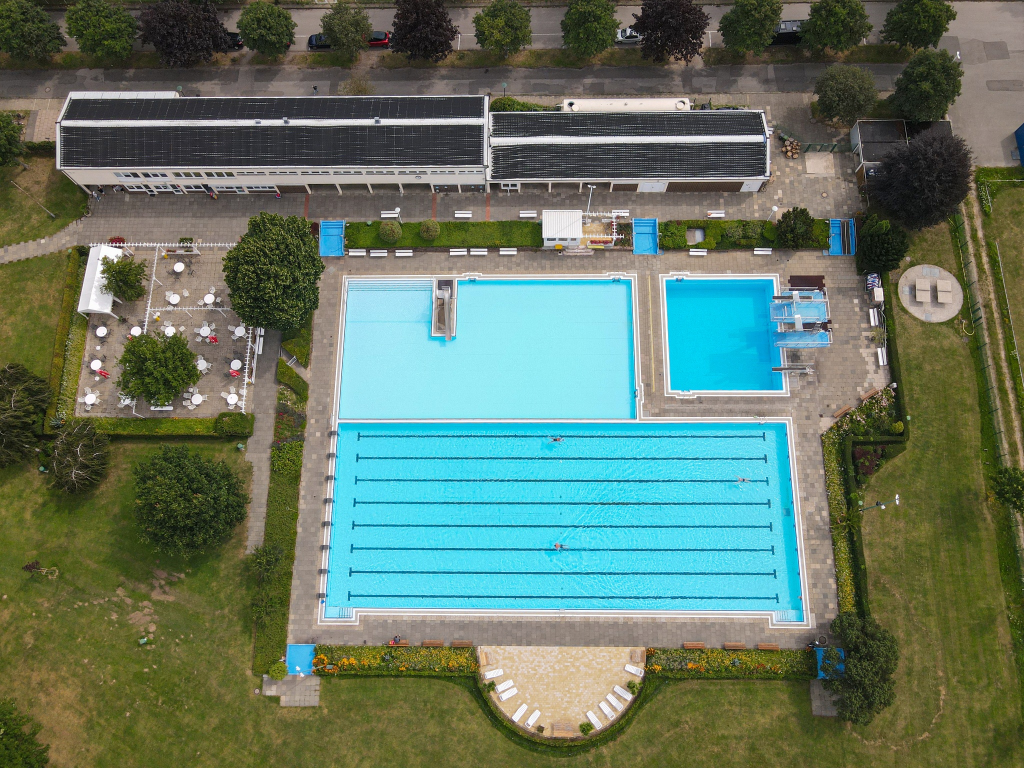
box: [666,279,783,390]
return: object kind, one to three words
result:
swimming pool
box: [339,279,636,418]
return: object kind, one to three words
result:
swimming pool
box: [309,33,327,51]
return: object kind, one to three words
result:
car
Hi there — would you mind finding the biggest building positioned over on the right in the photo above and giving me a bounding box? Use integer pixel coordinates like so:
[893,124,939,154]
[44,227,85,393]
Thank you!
[488,109,770,192]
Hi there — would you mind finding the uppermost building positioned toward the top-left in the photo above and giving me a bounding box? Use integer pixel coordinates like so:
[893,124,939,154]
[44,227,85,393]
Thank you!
[56,93,490,195]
